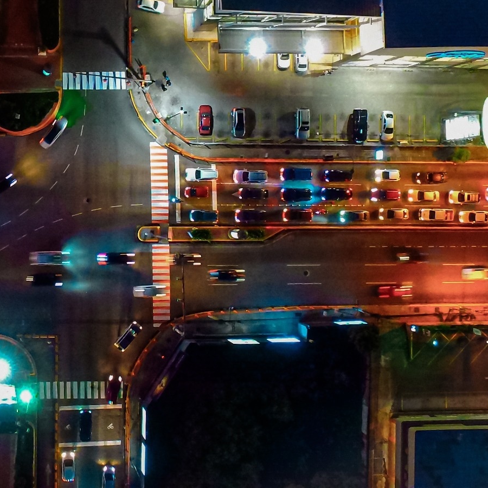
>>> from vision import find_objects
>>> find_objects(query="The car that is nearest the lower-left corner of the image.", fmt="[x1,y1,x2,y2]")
[61,451,75,482]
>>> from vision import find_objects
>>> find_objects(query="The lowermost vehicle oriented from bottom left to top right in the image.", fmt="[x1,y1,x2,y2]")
[113,320,142,353]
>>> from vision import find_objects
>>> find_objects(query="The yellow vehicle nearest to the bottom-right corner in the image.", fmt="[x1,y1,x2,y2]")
[459,267,488,282]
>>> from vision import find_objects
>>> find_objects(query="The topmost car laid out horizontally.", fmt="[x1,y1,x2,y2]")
[135,0,166,15]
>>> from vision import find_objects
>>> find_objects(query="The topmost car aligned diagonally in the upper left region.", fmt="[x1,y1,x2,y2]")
[41,118,66,149]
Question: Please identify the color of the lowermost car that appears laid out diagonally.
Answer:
black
